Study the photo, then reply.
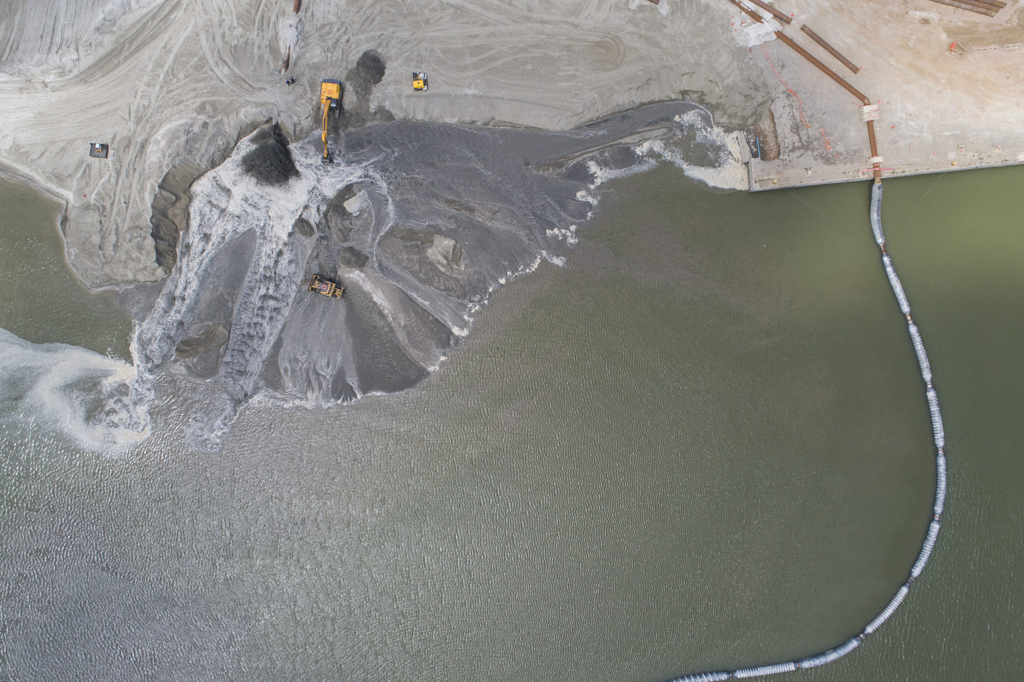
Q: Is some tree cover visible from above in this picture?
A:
No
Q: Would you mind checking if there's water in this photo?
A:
Yes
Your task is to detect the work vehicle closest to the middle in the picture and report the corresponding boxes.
[305,272,344,298]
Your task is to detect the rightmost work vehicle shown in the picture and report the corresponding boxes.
[413,71,429,93]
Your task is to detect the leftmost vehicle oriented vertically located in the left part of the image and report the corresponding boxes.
[319,79,346,164]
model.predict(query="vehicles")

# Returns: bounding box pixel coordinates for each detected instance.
[305,272,344,298]
[413,71,429,93]
[319,79,346,164]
